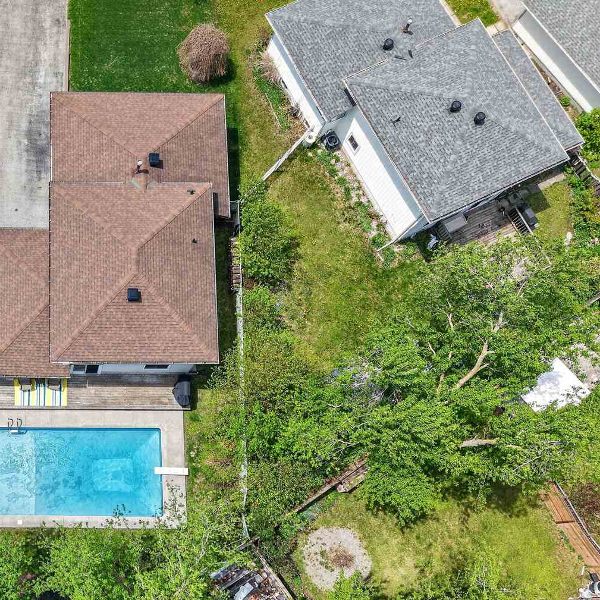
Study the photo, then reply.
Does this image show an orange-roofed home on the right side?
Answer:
No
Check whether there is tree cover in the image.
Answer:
Yes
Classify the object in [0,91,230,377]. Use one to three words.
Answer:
house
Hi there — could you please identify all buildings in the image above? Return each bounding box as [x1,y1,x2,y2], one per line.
[0,91,230,377]
[262,0,586,251]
